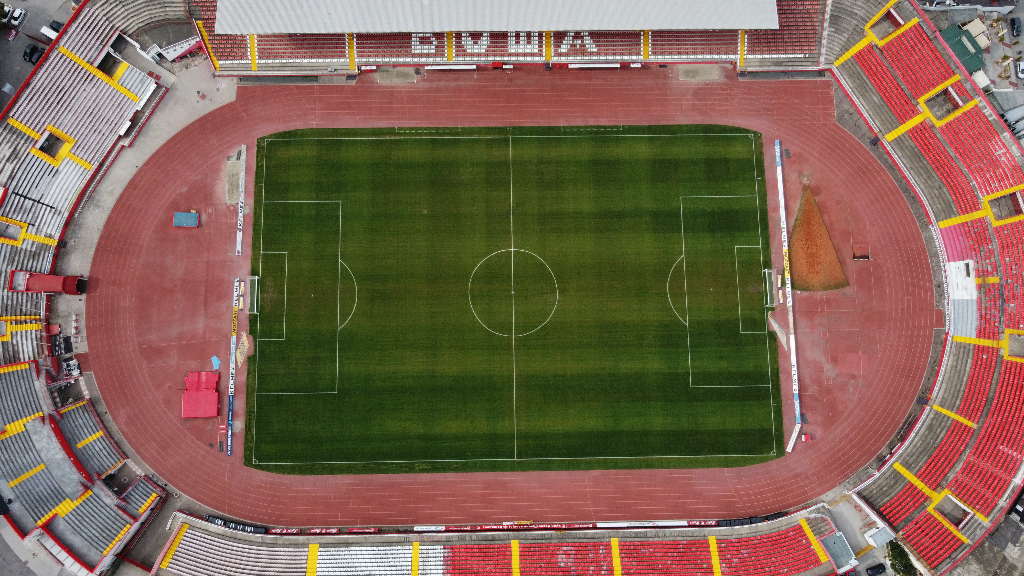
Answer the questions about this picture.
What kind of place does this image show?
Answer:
sports ground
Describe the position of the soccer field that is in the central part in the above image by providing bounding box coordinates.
[244,124,784,475]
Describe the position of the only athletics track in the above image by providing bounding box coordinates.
[73,65,941,526]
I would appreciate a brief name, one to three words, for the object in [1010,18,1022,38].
vehicle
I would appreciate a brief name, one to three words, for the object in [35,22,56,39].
vehicle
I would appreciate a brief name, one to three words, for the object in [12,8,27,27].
car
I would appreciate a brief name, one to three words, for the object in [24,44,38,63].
car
